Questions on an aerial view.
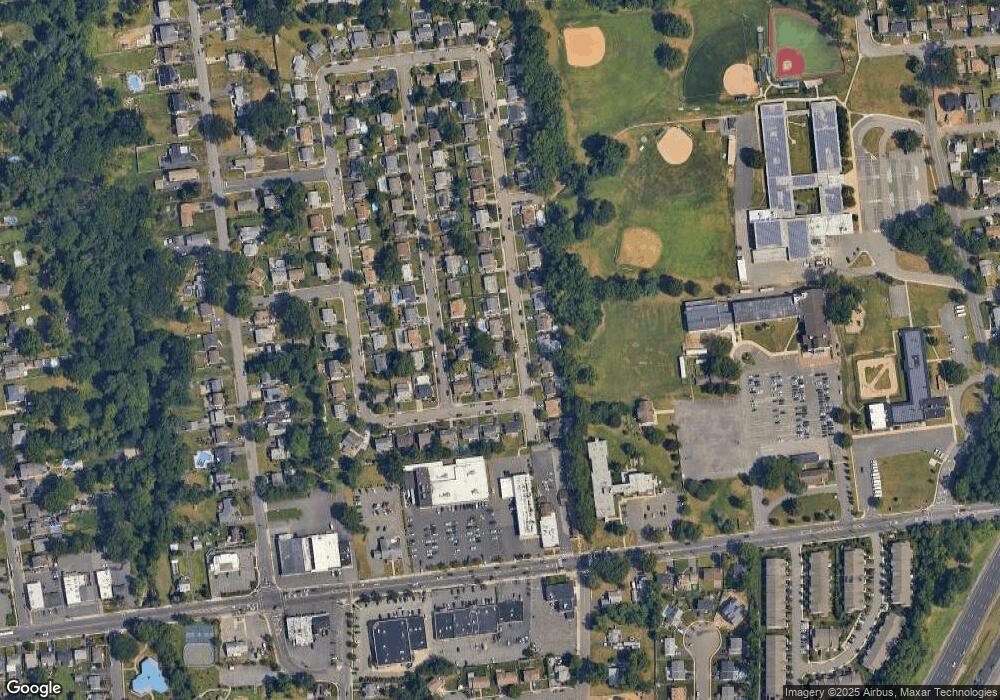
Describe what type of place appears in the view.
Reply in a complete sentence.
This image shows a residential area.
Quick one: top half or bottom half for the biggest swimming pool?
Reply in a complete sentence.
You can find the biggest swimming pool in the bottom half.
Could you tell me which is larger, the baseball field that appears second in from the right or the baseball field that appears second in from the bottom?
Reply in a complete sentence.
The baseball field that appears second in from the right is larger than the baseball field that appears second in from the bottom.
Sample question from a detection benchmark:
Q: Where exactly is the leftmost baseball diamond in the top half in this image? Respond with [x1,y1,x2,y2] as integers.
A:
[561,24,606,66]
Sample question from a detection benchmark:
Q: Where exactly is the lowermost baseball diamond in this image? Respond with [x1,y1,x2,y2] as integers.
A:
[618,226,662,268]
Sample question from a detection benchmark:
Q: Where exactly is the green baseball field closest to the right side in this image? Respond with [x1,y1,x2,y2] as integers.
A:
[770,8,845,81]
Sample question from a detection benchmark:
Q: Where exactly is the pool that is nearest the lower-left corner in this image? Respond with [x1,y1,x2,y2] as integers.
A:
[131,656,169,694]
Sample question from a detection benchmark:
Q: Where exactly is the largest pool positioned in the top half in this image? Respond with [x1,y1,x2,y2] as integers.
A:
[128,73,144,93]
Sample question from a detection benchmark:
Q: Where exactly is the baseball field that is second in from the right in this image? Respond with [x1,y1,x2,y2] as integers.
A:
[684,23,764,99]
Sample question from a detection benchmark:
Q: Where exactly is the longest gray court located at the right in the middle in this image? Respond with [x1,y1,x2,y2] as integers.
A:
[889,285,909,318]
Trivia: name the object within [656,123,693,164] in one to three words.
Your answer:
baseball field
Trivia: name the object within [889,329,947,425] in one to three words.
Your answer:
building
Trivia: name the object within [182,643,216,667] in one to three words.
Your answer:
sports court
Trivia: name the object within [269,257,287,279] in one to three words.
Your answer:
house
